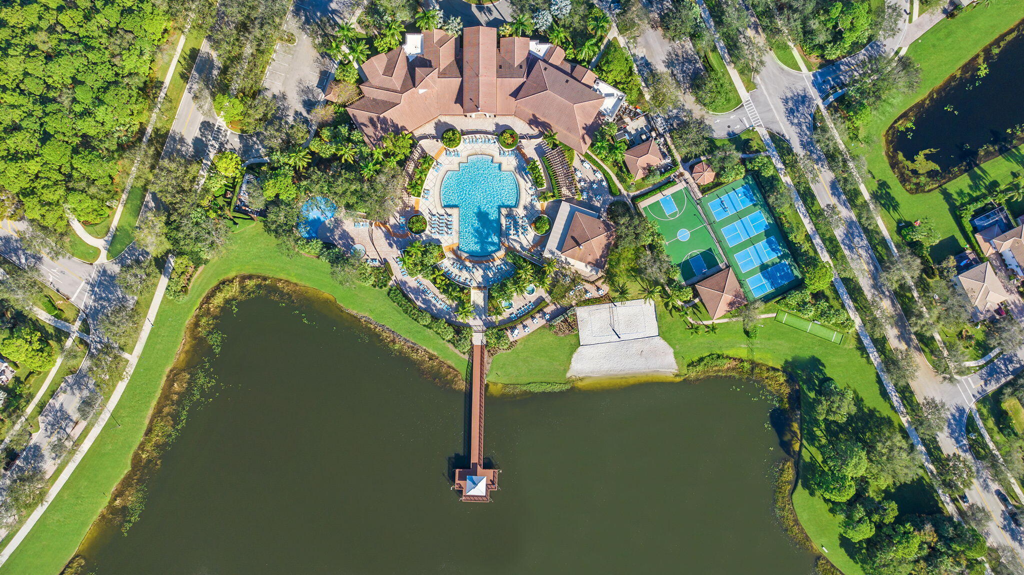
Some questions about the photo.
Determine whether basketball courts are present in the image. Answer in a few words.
Yes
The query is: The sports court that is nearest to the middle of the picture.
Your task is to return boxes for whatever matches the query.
[576,299,659,346]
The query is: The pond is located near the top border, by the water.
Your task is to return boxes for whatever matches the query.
[886,23,1024,193]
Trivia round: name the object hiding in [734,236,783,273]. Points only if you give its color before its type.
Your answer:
blue sports court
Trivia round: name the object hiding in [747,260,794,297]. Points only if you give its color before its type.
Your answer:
blue sports court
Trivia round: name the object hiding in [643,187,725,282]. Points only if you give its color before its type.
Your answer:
green basketball court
